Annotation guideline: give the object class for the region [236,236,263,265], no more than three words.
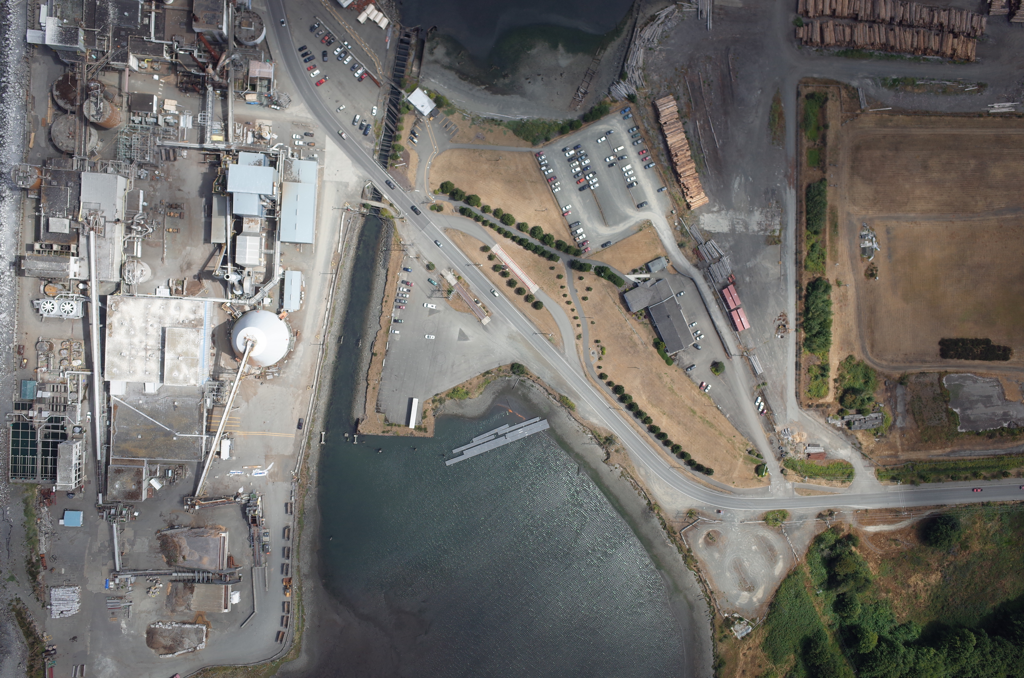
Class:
house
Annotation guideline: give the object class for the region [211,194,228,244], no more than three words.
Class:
shed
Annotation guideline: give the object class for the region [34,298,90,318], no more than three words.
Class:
cooling tower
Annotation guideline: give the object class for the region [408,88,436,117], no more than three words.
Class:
building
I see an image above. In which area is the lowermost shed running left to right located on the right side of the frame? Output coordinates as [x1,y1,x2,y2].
[843,413,884,430]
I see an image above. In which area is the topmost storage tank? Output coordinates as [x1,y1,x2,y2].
[234,10,268,47]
